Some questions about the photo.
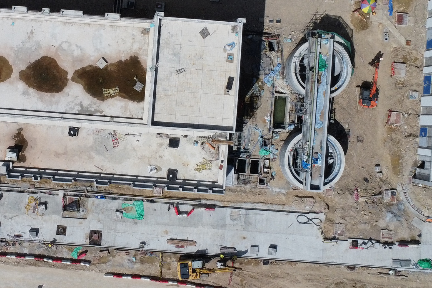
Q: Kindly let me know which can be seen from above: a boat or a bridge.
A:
bridge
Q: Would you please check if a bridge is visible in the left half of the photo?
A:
No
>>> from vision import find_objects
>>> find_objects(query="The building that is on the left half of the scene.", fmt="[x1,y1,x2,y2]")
[0,3,247,195]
